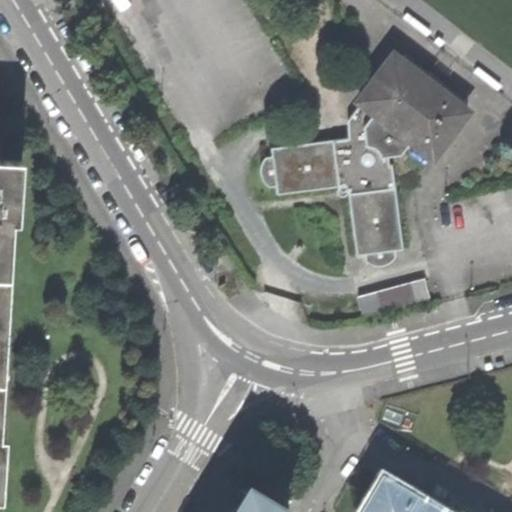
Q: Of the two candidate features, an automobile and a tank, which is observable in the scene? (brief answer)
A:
automobile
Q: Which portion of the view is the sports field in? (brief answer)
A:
top right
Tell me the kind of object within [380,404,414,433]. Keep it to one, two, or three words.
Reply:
shed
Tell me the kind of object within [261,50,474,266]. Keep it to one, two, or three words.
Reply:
building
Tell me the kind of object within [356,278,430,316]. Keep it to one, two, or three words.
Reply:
building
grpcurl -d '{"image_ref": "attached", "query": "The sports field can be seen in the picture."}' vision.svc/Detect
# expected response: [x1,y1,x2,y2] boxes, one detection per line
[422,0,512,68]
